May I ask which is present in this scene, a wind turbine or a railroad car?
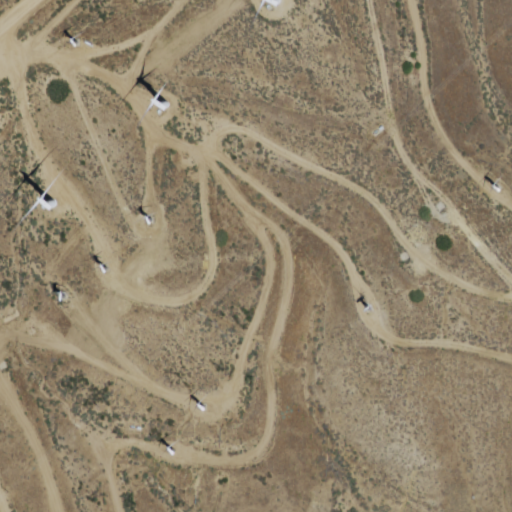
wind turbine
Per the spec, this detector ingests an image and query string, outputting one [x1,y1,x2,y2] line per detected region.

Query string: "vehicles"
[373,124,386,134]
[130,424,142,431]
[84,40,94,47]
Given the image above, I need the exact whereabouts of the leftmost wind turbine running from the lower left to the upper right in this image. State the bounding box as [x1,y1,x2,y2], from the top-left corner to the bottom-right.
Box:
[23,169,64,222]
